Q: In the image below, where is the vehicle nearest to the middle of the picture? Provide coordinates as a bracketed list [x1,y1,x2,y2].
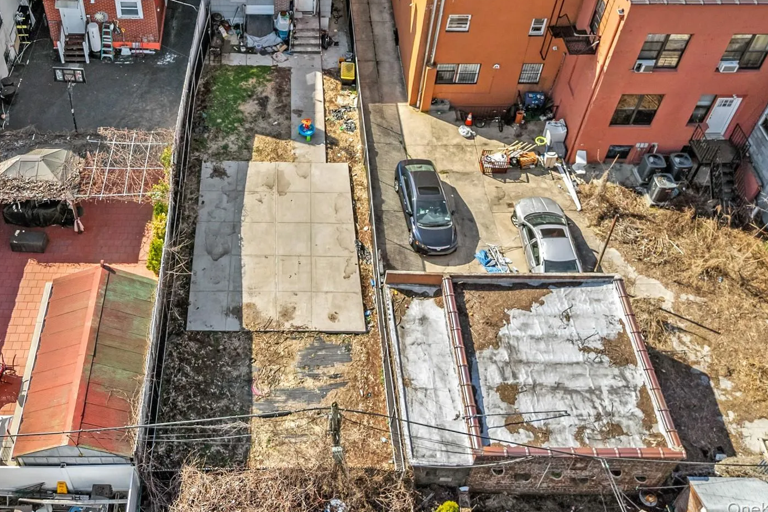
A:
[401,161,462,259]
